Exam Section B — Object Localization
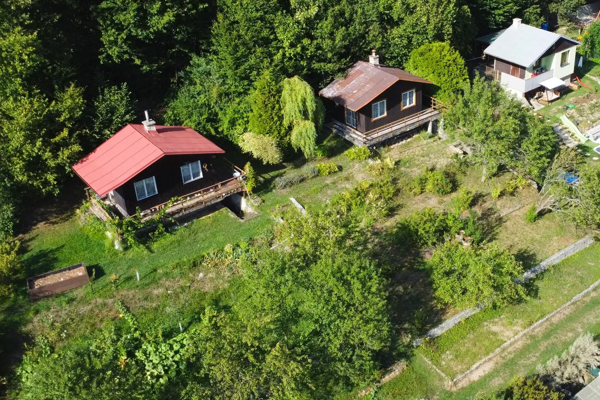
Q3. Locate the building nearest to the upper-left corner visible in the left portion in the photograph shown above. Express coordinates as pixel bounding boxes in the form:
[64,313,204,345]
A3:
[72,102,267,242]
